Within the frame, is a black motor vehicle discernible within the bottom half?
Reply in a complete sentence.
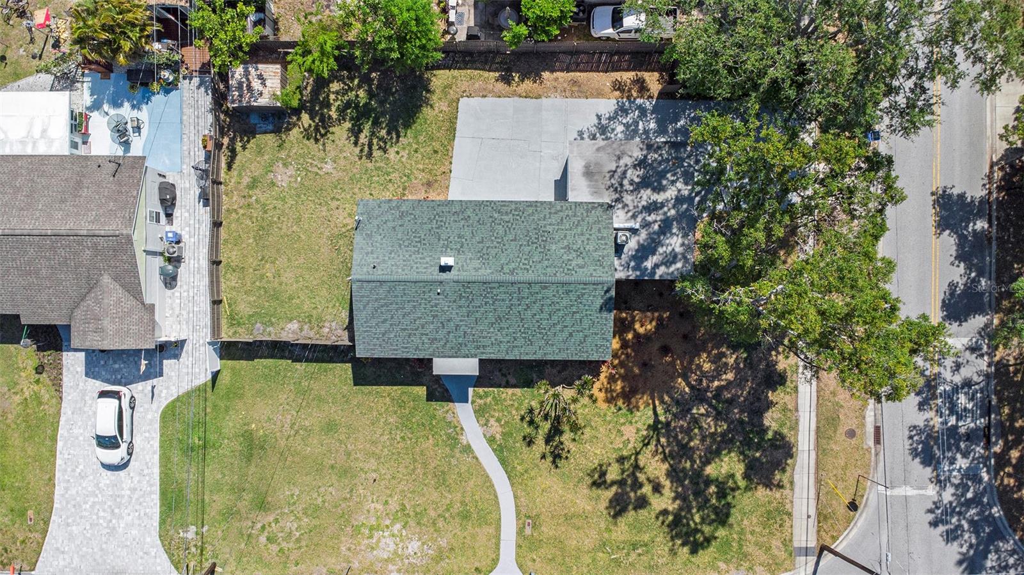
No, there is no black motor vehicle within the bottom half.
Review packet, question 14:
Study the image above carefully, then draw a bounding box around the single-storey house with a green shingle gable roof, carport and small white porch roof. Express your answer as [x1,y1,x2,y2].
[347,140,698,375]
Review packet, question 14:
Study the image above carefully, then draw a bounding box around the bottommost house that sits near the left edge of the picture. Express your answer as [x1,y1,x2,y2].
[0,155,172,351]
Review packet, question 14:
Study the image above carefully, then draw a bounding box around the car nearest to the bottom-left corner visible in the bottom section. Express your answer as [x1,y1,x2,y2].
[90,384,135,467]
